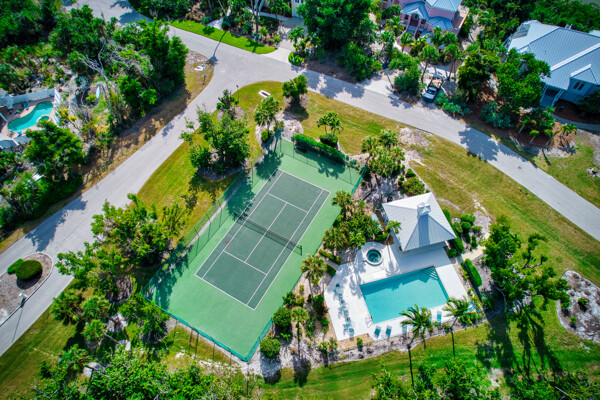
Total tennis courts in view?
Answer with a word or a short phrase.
1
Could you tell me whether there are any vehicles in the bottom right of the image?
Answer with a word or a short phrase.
No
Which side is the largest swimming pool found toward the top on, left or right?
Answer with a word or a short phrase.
left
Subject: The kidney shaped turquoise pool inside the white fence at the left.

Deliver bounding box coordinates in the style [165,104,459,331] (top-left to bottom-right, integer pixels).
[6,101,54,131]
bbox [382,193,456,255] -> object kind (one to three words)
building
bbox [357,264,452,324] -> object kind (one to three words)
swimming pool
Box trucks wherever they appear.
[421,75,446,102]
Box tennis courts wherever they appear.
[148,139,366,365]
